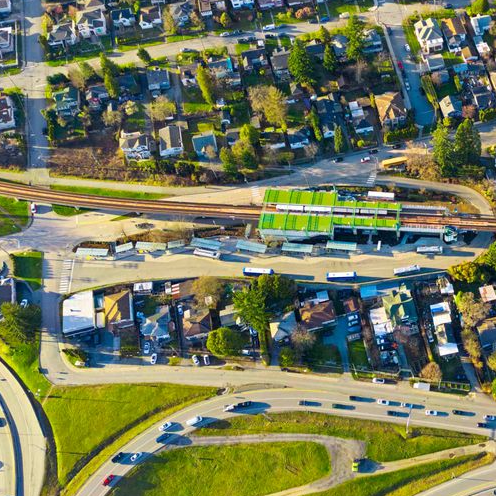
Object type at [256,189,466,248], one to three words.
train station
